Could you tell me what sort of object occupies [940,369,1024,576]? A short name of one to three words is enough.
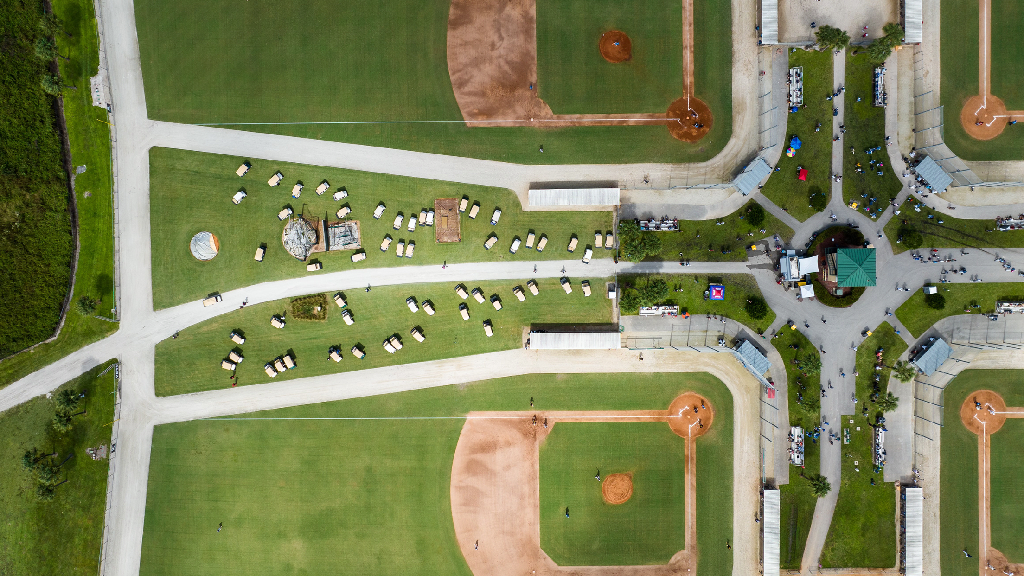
baseball field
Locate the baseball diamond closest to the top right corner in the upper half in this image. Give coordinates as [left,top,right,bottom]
[940,0,1024,161]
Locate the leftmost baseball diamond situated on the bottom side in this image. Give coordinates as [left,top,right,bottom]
[139,372,734,576]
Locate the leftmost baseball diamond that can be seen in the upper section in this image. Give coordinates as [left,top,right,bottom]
[133,0,732,165]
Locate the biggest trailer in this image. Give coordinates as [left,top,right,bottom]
[775,251,803,287]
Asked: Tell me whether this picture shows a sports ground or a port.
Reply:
sports ground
